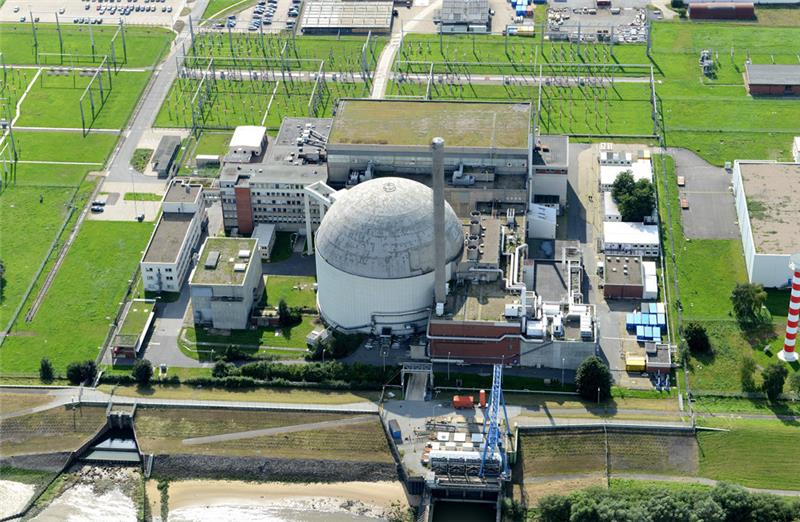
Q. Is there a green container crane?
No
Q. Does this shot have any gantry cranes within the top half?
No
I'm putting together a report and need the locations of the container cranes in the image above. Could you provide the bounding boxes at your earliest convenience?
[480,361,512,477]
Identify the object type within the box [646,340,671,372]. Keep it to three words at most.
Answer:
house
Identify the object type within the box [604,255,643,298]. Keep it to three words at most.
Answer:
building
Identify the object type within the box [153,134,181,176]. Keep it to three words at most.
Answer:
shed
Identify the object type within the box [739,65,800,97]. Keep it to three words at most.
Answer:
building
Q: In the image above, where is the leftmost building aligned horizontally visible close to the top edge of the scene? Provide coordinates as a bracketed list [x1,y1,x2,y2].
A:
[300,0,395,38]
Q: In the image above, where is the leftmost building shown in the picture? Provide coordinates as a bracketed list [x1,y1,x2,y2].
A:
[104,297,159,358]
